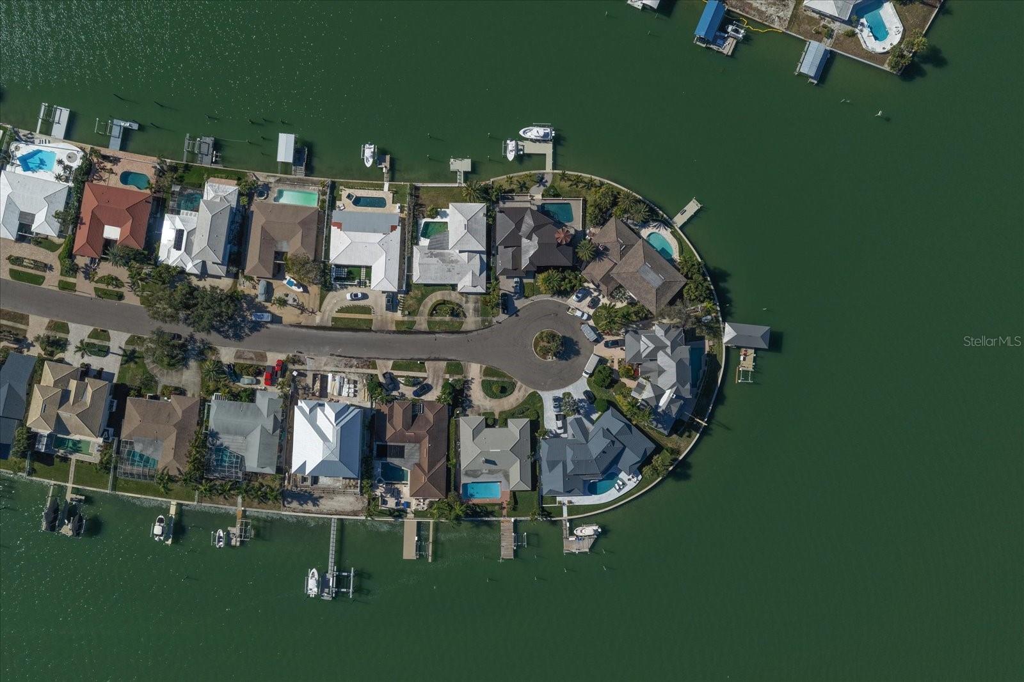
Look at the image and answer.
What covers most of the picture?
water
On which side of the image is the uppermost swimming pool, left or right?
right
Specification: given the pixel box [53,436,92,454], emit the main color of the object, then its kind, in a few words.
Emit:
green swimming pool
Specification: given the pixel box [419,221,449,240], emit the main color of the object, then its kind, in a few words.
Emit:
green swimming pool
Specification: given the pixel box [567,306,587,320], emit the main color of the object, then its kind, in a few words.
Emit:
white vehicle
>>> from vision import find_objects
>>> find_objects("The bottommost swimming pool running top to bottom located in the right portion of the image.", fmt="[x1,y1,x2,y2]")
[691,345,704,385]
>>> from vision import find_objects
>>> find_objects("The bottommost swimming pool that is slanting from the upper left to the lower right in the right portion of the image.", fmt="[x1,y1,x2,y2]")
[647,231,674,258]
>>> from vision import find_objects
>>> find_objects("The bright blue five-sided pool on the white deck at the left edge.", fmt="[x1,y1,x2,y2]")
[16,149,57,172]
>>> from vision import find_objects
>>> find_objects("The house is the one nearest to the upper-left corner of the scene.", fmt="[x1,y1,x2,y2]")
[0,170,69,240]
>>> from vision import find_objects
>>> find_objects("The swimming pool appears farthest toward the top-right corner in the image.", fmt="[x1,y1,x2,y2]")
[857,1,890,42]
